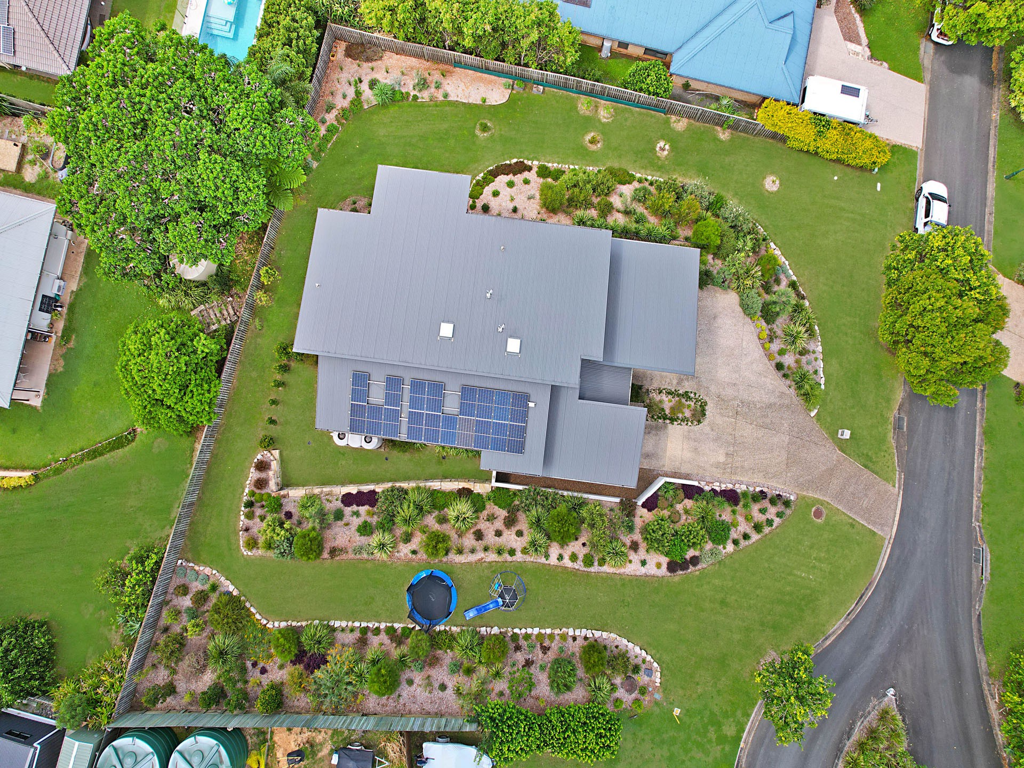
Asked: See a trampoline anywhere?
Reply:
Yes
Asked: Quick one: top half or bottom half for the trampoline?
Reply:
bottom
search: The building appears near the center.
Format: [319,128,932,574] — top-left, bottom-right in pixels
[292,163,701,490]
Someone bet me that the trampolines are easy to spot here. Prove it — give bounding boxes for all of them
[402,569,457,632]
